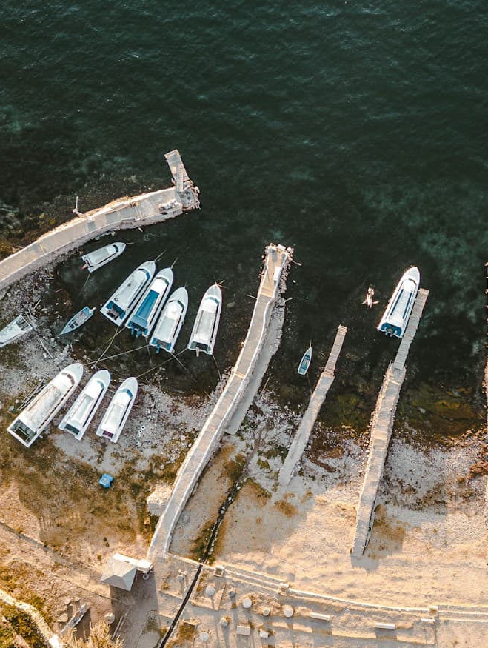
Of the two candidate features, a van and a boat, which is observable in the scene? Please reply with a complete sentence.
This aerial view contains a boat.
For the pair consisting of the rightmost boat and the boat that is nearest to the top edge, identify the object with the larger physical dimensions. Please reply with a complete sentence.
The rightmost boat takes up more space than the boat that is nearest to the top edge does.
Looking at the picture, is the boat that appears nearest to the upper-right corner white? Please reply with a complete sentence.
Yes, the boat that appears nearest to the upper-right corner is white.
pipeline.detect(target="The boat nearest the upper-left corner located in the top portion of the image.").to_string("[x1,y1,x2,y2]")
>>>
[82,244,125,271]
